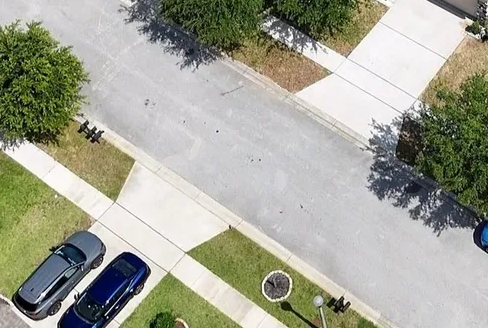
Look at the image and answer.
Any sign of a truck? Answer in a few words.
No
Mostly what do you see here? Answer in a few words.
paved ground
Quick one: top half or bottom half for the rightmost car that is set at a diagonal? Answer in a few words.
bottom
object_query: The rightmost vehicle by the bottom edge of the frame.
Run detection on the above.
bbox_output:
[59,249,152,328]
